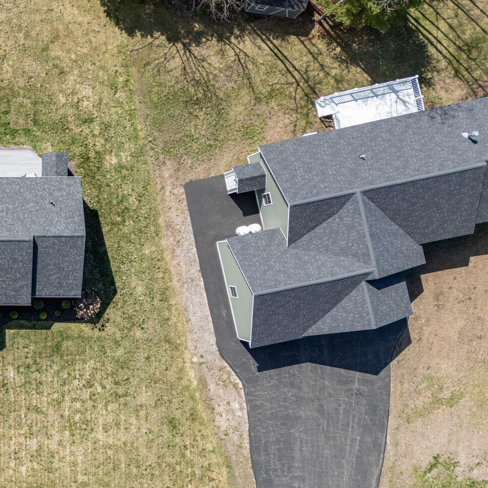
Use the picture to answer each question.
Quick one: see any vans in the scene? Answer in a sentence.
No, the frame has no van in it.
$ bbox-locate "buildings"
[217,98,488,349]
[243,0,312,18]
[0,153,86,306]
